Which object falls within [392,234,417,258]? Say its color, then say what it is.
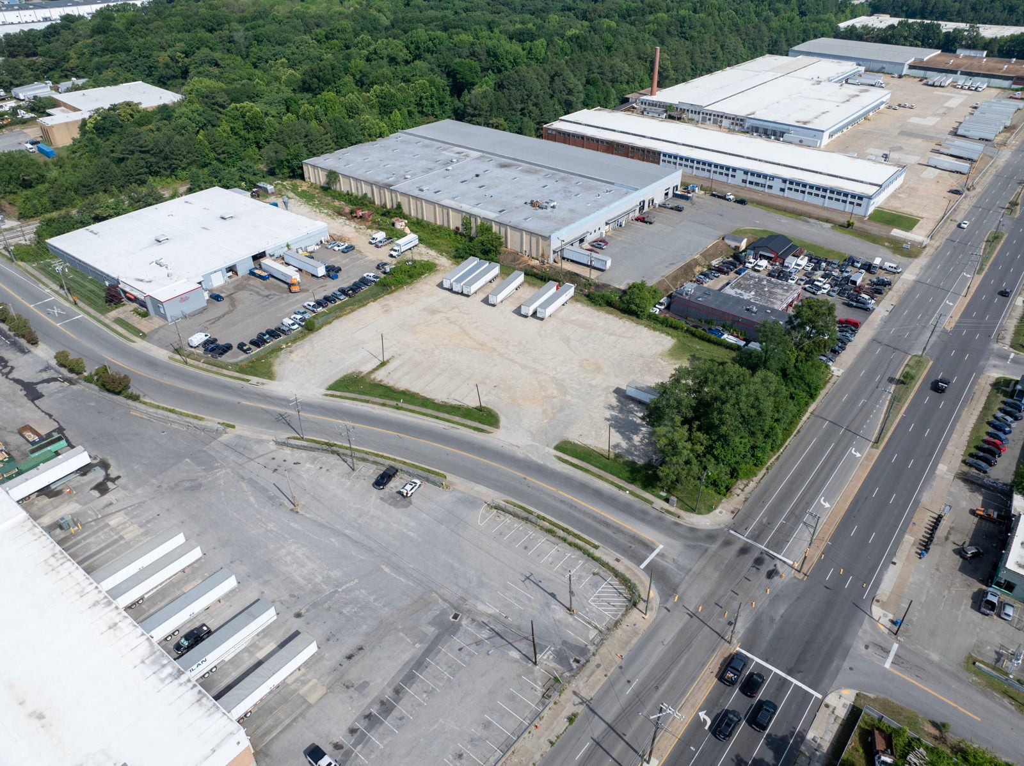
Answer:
white truck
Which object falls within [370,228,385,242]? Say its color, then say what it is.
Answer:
white vehicle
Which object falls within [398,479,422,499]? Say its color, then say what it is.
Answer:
white car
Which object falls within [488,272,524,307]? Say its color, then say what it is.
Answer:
white trailer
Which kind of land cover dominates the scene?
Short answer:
paved ground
